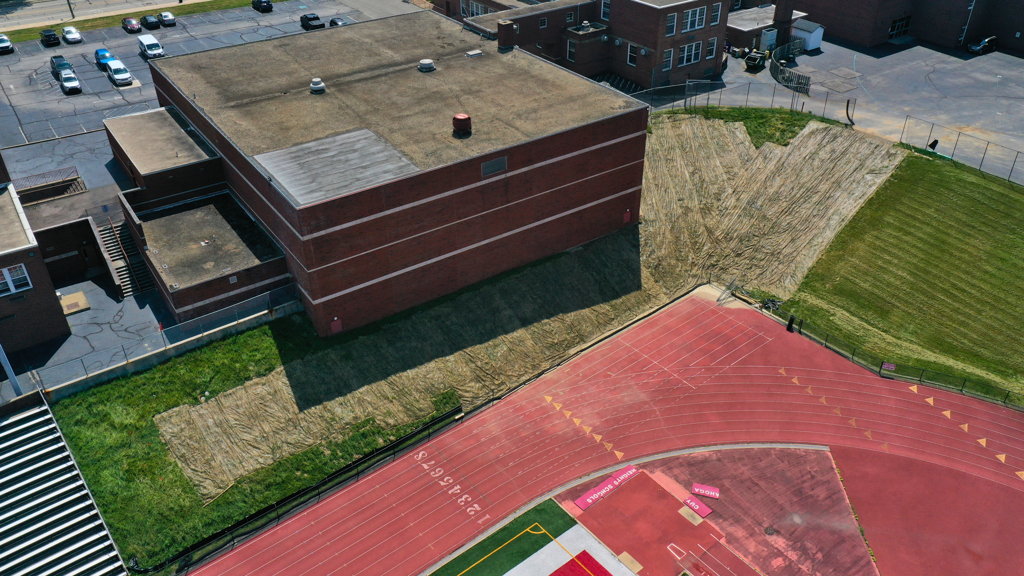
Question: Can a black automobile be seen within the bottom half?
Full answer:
No, no black automobile appears within the bottom half.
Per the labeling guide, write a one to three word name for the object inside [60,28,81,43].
car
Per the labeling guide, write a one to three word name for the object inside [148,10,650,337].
building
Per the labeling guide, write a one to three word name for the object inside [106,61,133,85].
vehicle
